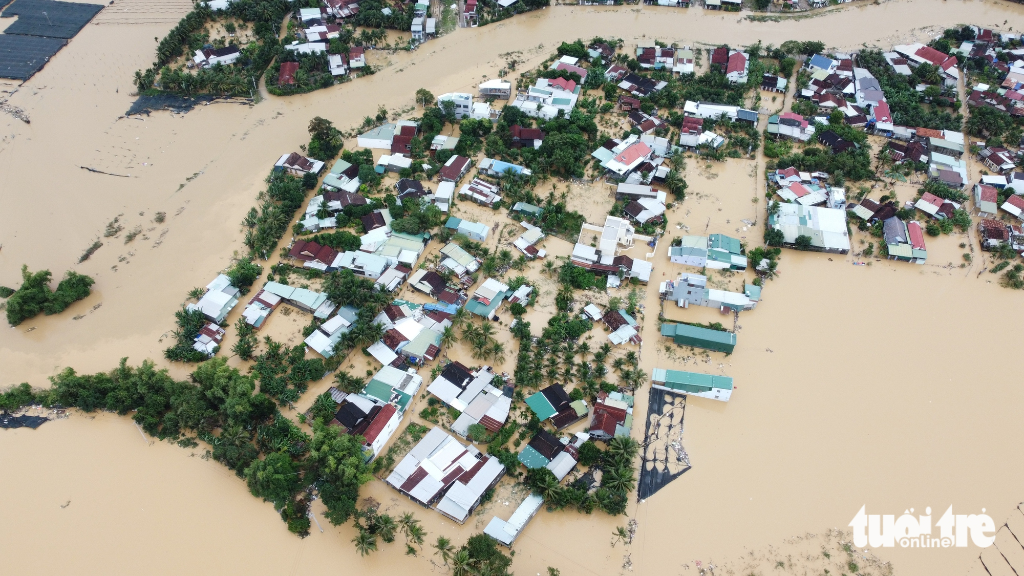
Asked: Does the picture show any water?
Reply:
Yes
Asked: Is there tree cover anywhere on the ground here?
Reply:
Yes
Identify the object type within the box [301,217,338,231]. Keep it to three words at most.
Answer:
shed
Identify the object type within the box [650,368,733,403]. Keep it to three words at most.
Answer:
building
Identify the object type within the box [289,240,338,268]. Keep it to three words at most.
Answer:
house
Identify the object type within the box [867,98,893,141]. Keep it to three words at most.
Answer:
house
